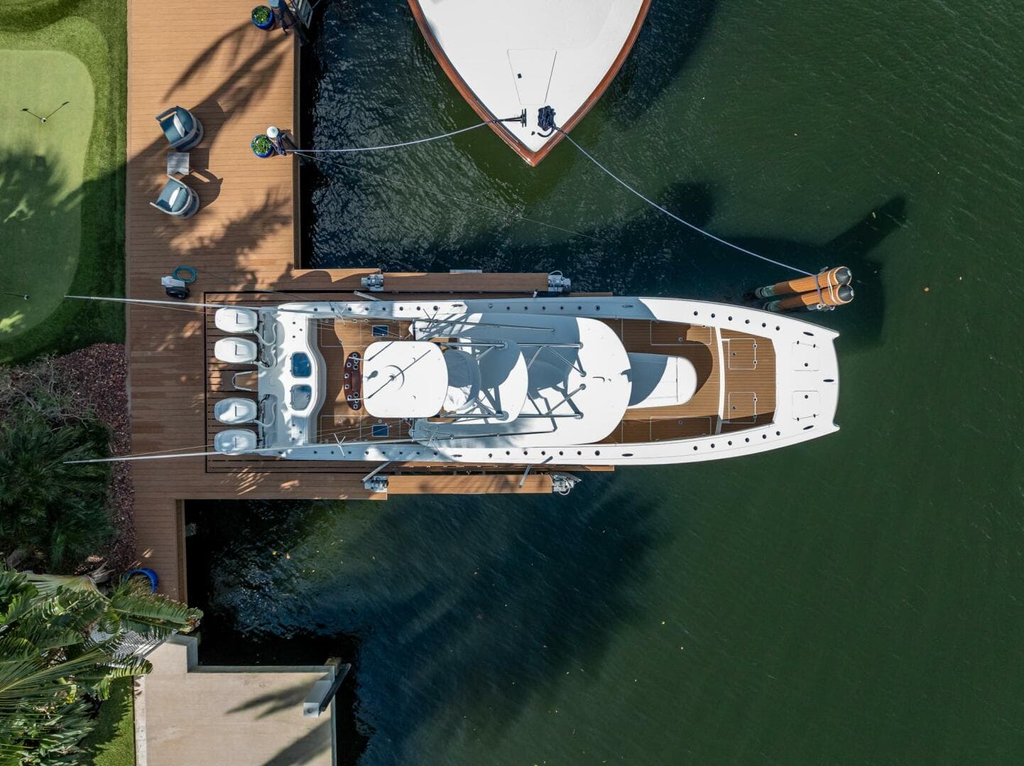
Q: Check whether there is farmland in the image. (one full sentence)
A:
No, the picture contains no farmland.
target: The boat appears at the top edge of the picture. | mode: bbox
[409,0,651,167]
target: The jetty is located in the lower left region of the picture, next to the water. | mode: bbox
[134,631,342,766]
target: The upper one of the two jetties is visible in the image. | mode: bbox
[127,0,391,642]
